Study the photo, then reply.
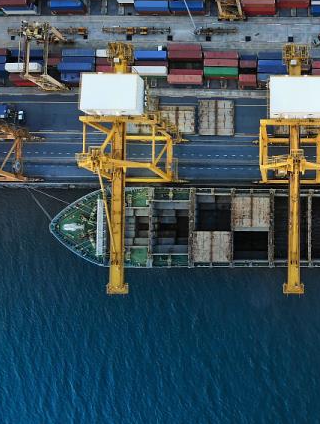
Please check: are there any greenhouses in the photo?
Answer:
No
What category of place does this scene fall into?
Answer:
port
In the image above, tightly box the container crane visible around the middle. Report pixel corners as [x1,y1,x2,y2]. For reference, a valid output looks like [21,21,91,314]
[80,40,190,299]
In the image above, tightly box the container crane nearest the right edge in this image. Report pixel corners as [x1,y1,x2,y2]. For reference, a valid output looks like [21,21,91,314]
[248,40,320,299]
